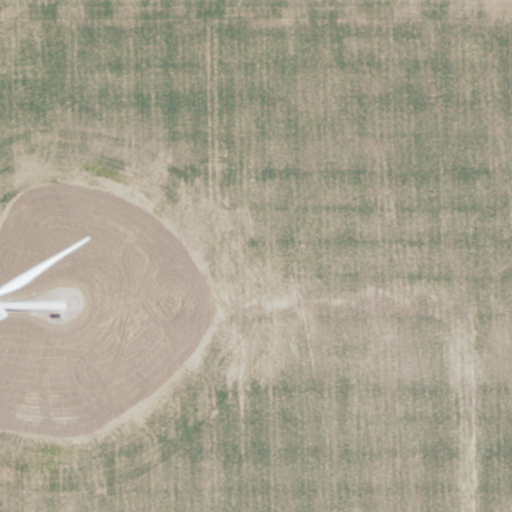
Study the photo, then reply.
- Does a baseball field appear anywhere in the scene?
No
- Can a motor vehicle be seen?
No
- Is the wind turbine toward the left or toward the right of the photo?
left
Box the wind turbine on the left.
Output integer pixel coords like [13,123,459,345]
[0,236,90,320]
